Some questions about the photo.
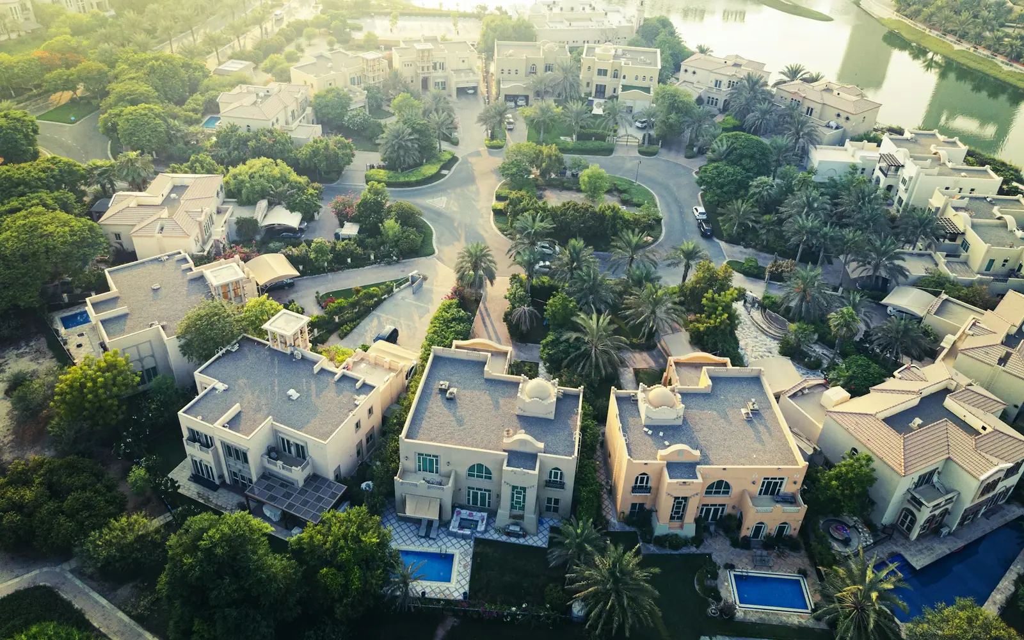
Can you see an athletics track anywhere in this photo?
No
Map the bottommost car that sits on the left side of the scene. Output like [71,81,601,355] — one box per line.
[370,320,402,343]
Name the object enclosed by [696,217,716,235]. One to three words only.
car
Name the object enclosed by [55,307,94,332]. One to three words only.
swimming pool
